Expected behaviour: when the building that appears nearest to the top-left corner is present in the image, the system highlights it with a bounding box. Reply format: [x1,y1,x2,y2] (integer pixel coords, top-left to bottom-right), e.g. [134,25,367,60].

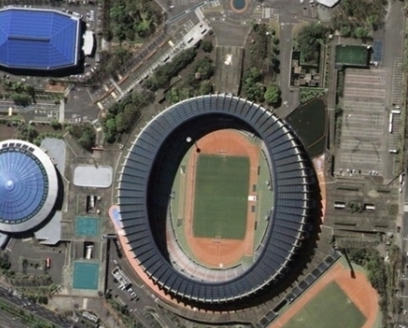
[0,7,78,70]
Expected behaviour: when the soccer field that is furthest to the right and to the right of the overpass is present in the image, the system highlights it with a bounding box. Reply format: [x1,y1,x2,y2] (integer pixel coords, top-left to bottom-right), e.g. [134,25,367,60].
[334,42,373,69]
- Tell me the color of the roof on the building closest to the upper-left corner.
blue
